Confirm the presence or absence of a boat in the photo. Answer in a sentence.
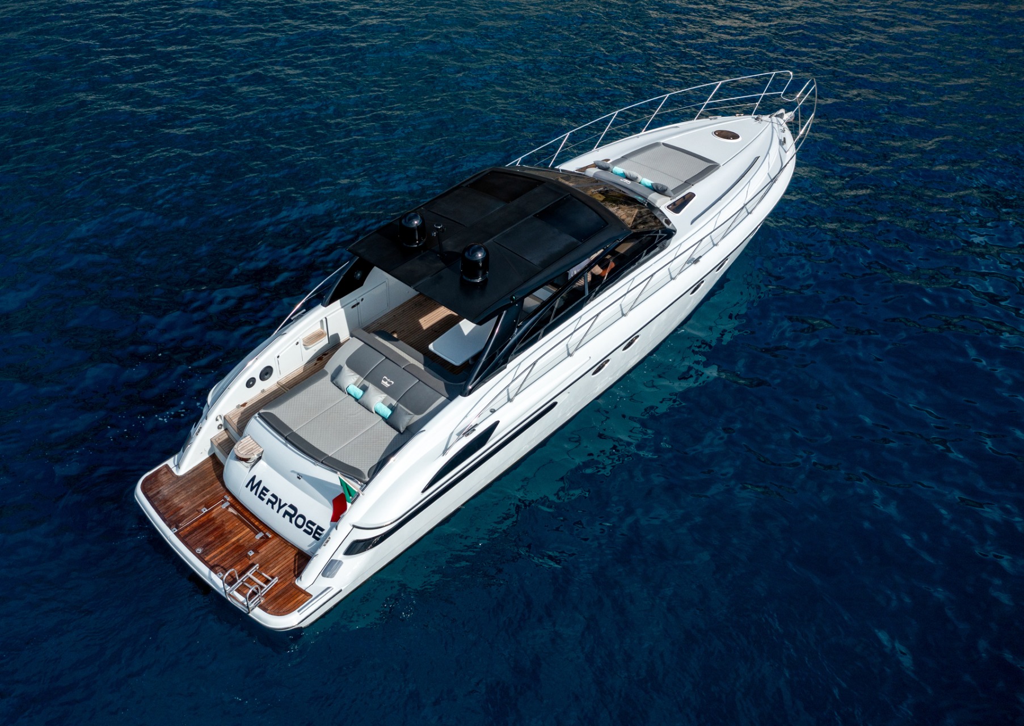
Yes, there's a boat down there.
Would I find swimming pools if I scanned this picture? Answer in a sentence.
No, there is no swimming pool in the image.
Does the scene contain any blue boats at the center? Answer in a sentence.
No, no blue boat can be made out at the center.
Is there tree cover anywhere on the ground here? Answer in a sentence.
No, the scene doesn't show any tree cover.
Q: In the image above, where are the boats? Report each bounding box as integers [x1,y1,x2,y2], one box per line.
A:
[134,71,817,632]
